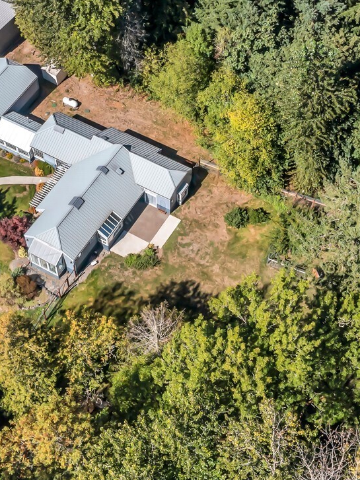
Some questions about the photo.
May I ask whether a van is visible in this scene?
No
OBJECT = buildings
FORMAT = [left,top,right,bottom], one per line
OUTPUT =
[0,57,38,115]
[24,112,193,277]
[0,0,28,55]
